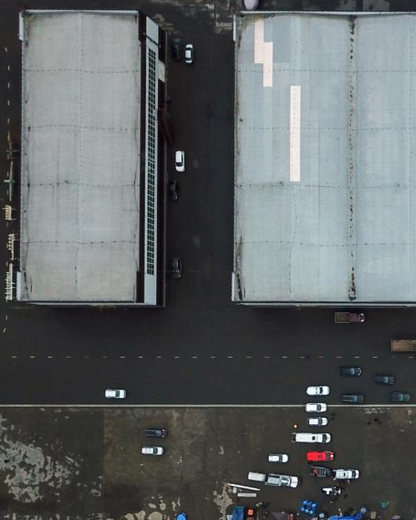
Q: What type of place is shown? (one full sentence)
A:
This image shows an industrial area.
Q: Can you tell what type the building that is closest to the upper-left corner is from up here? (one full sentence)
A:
Specifically, the building that is closest to the upper-left corner is a warehouse.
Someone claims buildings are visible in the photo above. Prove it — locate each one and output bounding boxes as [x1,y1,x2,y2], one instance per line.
[229,10,416,309]
[13,9,168,307]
